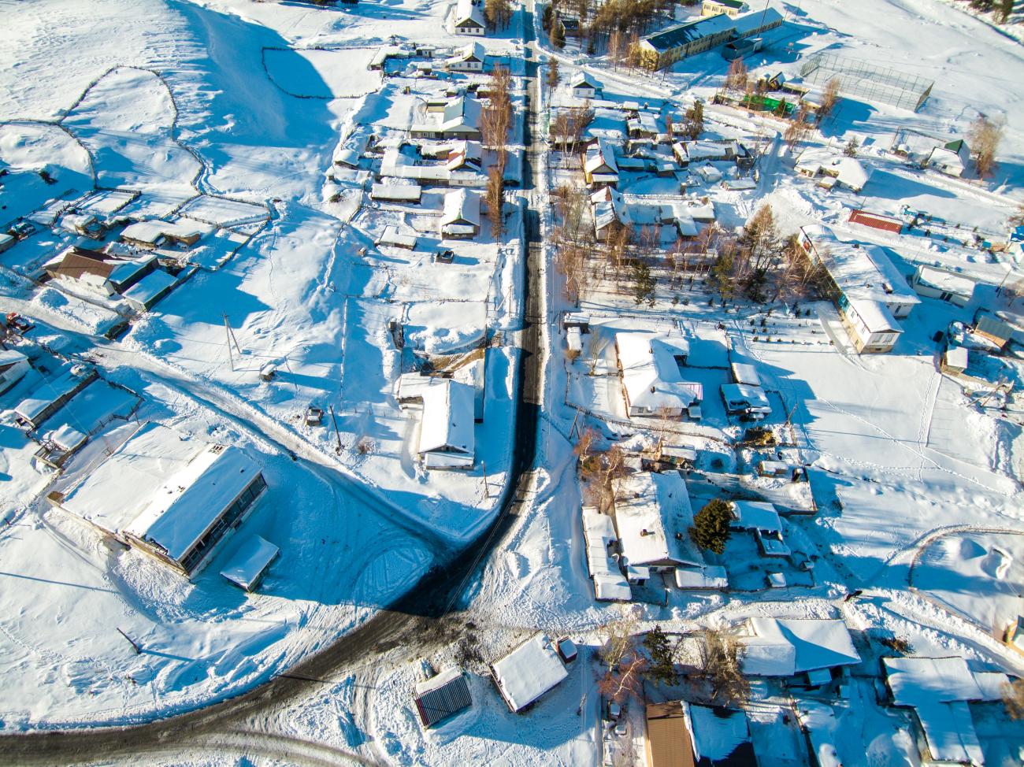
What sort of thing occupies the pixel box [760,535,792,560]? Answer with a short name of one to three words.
shed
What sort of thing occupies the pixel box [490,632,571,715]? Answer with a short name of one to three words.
building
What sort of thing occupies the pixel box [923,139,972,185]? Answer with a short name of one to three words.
house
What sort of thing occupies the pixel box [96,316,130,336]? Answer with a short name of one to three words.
vehicle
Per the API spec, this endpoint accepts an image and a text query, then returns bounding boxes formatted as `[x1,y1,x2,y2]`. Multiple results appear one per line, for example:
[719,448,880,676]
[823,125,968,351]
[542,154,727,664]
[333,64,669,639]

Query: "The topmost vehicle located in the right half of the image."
[927,329,949,341]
